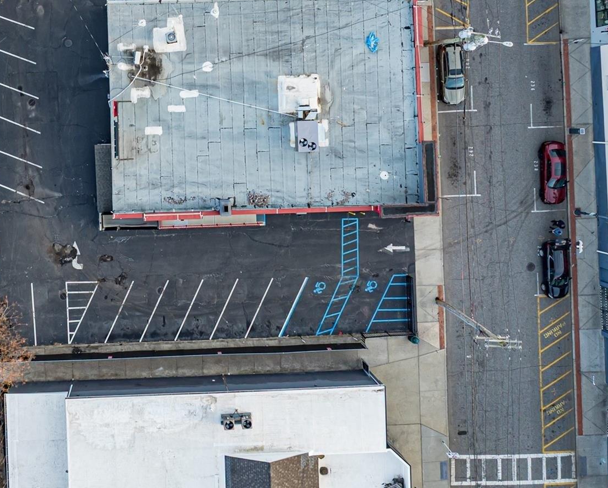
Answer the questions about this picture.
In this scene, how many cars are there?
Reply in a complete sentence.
There are 3 cars in the image.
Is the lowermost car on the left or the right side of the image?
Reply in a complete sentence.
The lowermost car appears in the right half of the scene.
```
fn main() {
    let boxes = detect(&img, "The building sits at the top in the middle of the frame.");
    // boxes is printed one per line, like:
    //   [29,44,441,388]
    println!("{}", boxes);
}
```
[94,0,438,230]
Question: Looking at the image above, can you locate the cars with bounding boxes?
[537,241,573,305]
[436,43,468,105]
[535,141,570,204]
